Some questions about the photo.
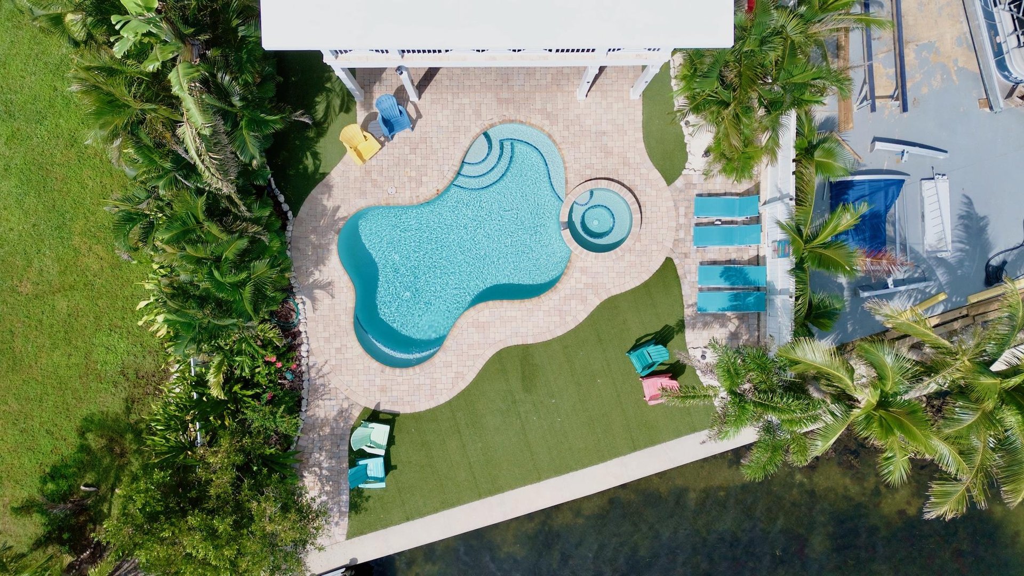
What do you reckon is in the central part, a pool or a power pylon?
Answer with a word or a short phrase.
pool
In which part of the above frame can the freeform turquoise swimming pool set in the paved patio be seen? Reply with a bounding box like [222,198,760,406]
[328,114,581,377]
